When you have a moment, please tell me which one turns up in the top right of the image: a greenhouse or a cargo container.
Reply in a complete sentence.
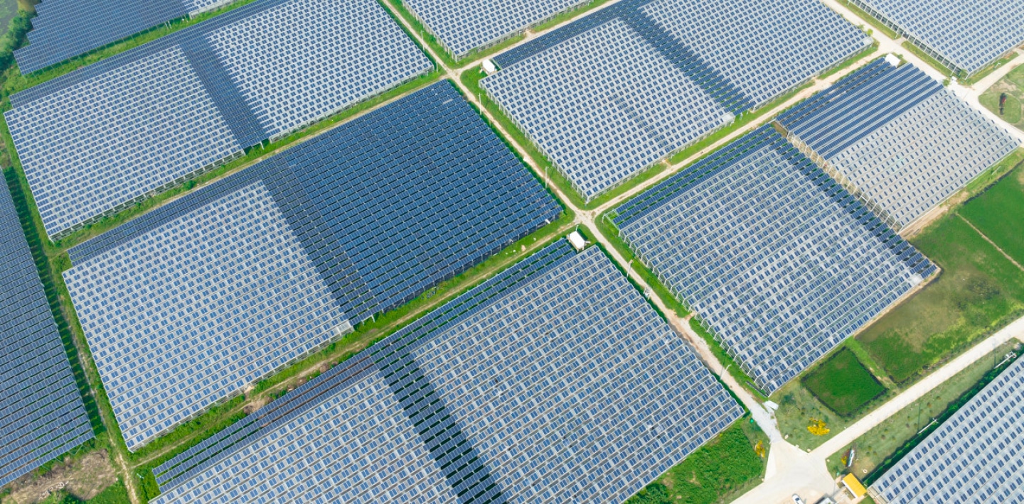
What appears in the top right of the image is a greenhouse.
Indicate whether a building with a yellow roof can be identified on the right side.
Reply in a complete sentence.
Yes, on the right side there is a building with a yellow roof.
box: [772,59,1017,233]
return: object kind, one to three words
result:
greenhouse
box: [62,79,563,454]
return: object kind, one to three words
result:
greenhouse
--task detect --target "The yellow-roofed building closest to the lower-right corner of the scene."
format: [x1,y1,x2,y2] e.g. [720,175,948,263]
[836,473,866,503]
